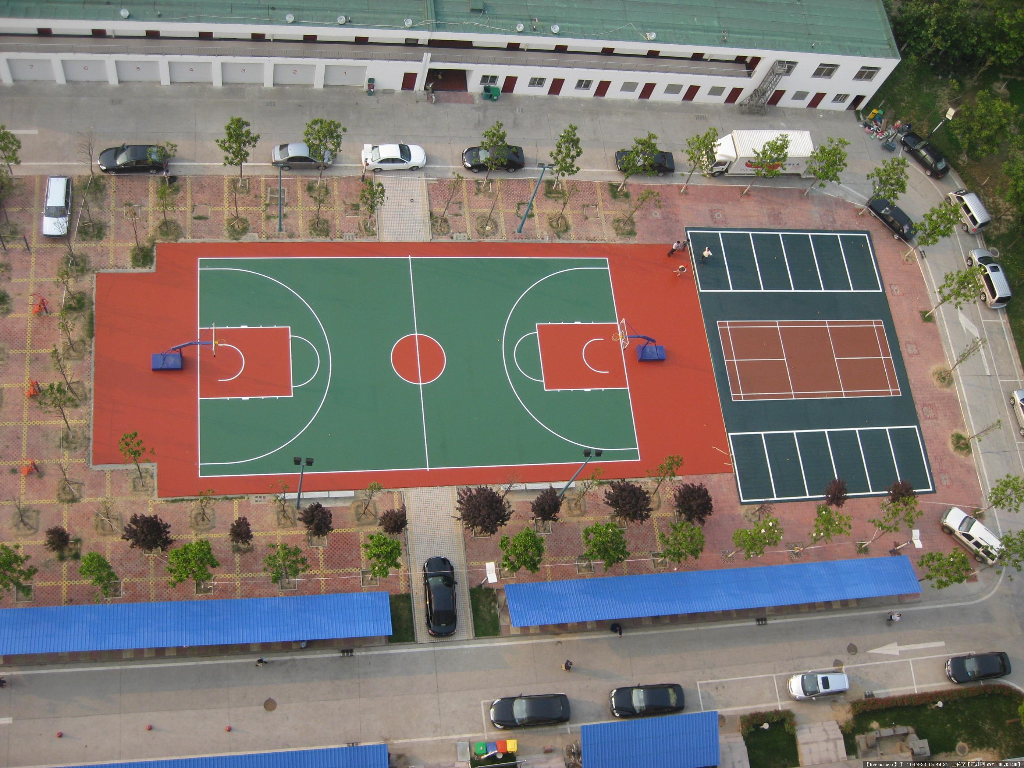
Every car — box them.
[943,650,1017,685]
[270,142,335,170]
[422,556,460,640]
[614,149,677,177]
[898,126,955,180]
[864,193,921,245]
[785,668,855,703]
[968,248,1018,310]
[40,173,75,240]
[606,682,688,719]
[941,503,1015,570]
[95,140,171,175]
[486,692,571,731]
[1010,389,1024,440]
[946,184,995,237]
[363,140,427,172]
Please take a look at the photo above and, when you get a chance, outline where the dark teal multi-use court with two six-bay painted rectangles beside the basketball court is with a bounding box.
[684,226,936,504]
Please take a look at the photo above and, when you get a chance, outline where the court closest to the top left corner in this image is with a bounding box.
[88,239,734,500]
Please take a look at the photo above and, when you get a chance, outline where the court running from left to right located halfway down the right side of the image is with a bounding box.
[718,319,902,401]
